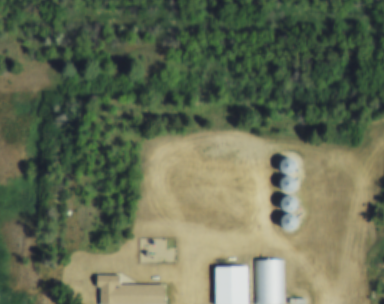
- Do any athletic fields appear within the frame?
No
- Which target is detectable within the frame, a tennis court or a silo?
silo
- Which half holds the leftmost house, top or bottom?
bottom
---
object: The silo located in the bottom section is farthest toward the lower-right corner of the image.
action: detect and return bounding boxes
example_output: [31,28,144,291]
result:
[280,214,302,233]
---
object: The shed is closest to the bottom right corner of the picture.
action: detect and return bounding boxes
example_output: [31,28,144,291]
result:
[256,258,286,304]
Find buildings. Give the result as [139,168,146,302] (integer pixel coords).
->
[216,265,250,304]
[256,258,286,304]
[98,275,166,304]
